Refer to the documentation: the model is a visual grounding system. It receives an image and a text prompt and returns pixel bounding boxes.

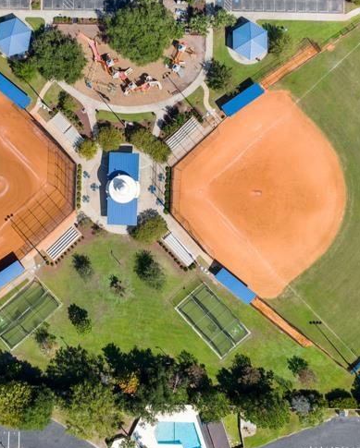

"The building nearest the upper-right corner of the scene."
[232,21,269,62]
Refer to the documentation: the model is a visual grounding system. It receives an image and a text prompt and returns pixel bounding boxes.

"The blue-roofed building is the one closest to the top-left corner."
[0,16,32,57]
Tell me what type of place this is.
sports ground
